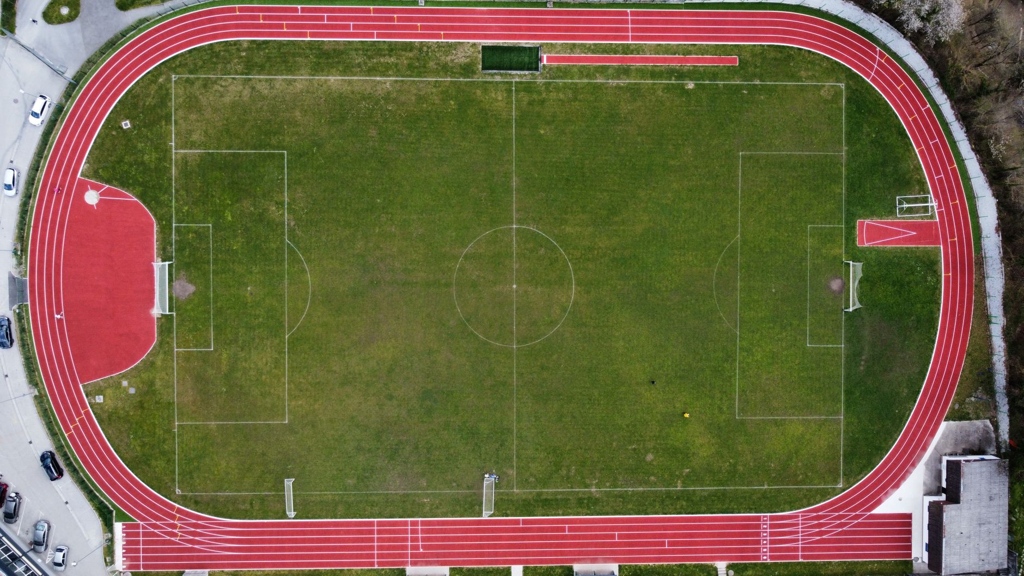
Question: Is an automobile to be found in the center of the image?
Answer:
No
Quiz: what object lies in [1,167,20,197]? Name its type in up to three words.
car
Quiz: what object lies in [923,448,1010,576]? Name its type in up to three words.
building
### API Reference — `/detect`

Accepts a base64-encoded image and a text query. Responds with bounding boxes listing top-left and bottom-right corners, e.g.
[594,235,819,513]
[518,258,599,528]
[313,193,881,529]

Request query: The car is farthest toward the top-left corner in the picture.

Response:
[28,94,51,127]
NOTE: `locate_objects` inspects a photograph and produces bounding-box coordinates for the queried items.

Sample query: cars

[28,94,51,127]
[0,317,14,348]
[0,482,8,511]
[31,520,51,553]
[40,450,62,482]
[3,494,22,524]
[51,545,69,573]
[1,167,20,197]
